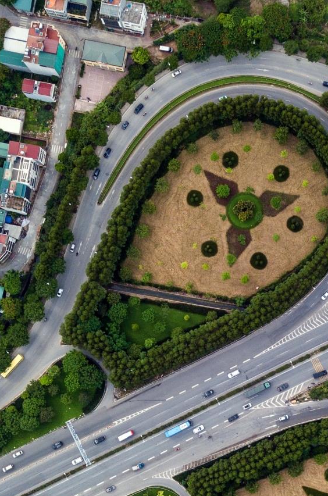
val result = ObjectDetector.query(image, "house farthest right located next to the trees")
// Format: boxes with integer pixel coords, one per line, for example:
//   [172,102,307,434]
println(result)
[121,1,153,40]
